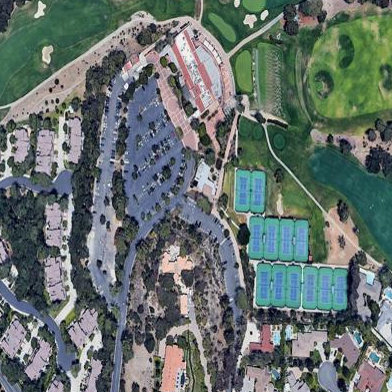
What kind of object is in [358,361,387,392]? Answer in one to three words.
house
